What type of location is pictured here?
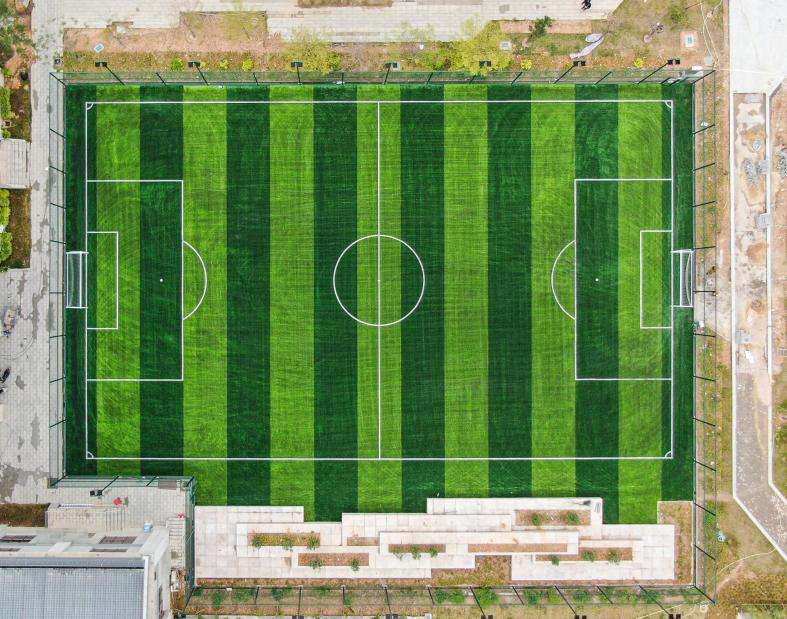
sports ground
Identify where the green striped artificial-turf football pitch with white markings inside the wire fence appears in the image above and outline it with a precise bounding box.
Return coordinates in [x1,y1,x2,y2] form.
[66,84,693,524]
